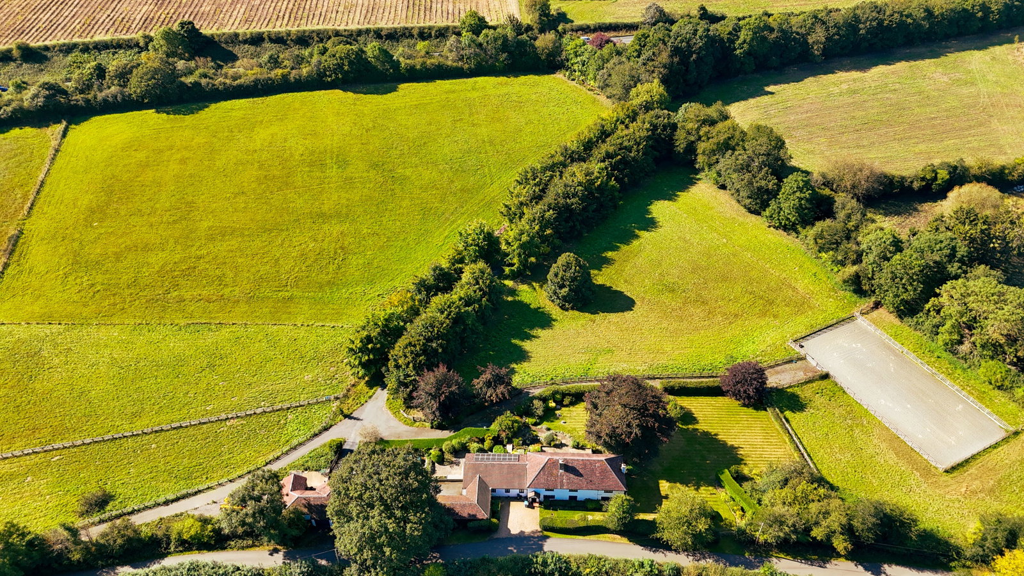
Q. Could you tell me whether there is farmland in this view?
Yes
